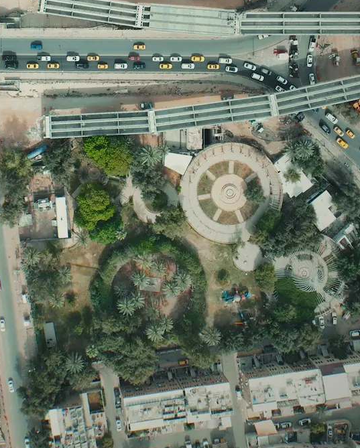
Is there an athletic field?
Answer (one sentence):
No, the frame has no athletic field in it.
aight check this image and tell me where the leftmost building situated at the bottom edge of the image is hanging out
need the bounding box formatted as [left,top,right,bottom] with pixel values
[50,396,90,448]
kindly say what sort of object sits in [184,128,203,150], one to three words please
shed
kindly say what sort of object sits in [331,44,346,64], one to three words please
work vehicle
